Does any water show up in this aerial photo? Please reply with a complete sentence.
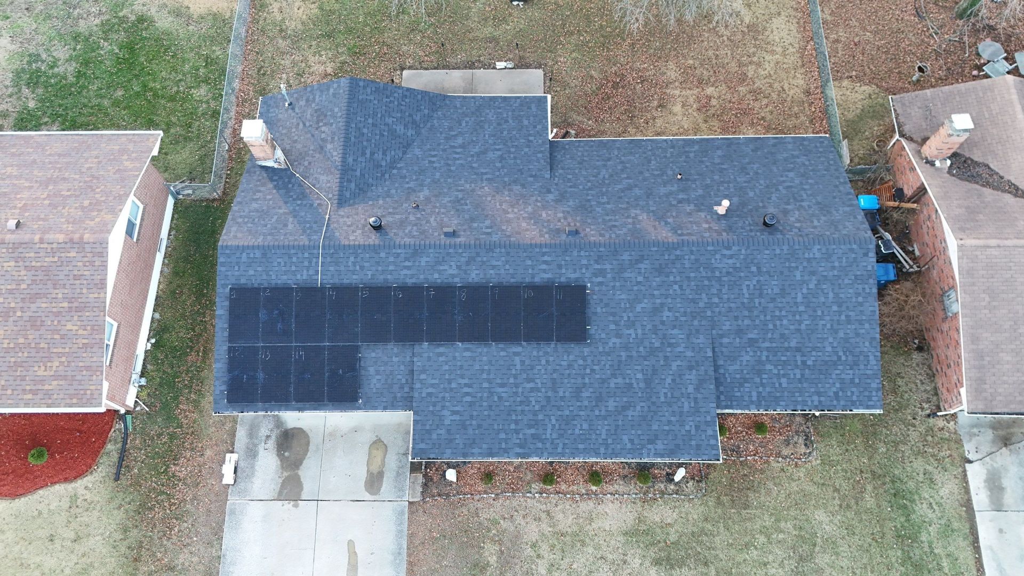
No, there's no water in this view.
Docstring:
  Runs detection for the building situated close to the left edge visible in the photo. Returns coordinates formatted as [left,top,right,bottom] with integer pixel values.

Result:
[0,129,173,418]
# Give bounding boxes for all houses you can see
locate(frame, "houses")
[213,76,882,466]
[883,69,1024,420]
[0,129,173,418]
